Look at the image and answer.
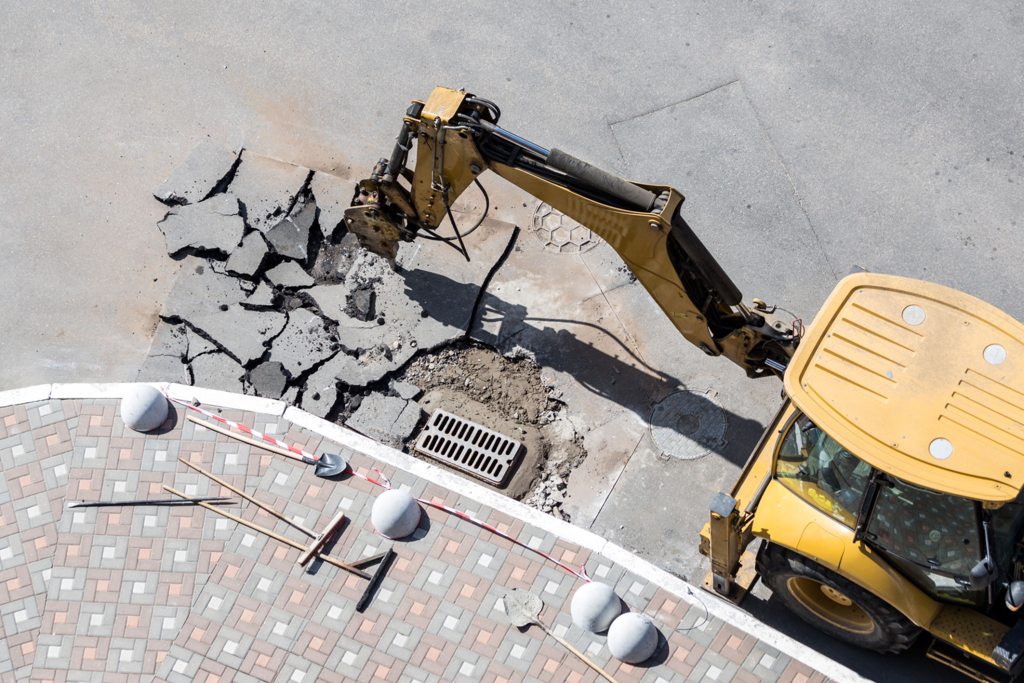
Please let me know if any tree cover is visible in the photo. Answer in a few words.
No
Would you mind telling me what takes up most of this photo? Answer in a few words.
paved ground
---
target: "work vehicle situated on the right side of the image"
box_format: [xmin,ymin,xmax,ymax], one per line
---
[345,85,1024,683]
